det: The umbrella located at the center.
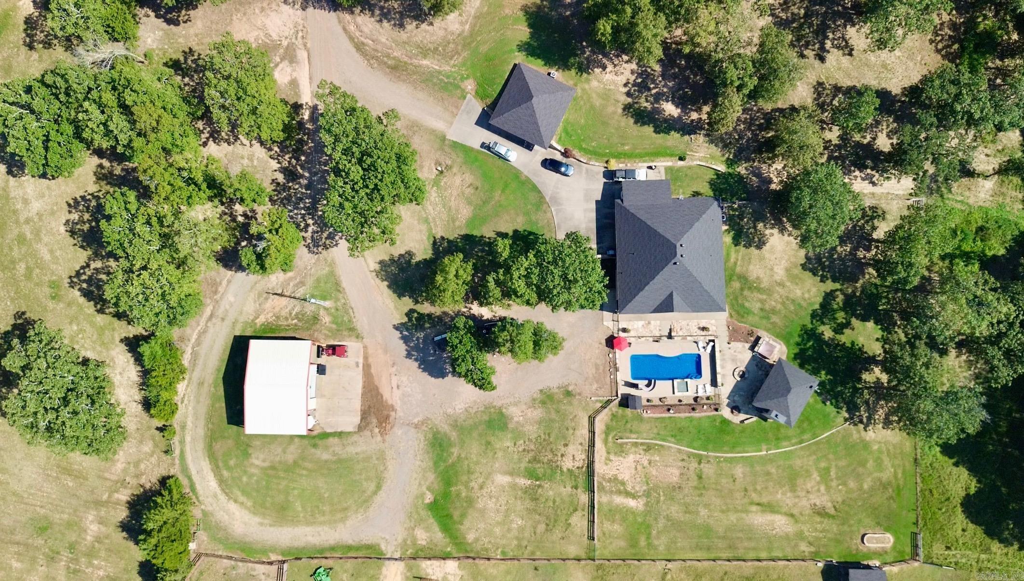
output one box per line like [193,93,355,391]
[613,335,627,351]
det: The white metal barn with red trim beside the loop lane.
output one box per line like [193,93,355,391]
[243,339,320,437]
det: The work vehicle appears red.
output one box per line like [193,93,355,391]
[318,344,346,358]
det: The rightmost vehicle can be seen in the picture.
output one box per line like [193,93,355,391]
[612,166,646,182]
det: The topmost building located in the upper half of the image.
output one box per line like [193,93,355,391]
[489,62,576,149]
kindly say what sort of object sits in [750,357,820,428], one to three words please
building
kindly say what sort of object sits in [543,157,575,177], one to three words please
car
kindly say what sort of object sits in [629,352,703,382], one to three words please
swimming pool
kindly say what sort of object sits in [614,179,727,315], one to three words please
house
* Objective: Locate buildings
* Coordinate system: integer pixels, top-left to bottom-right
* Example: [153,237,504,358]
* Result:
[841,562,887,581]
[750,357,820,428]
[614,179,727,315]
[628,395,643,410]
[489,62,576,149]
[243,339,320,437]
